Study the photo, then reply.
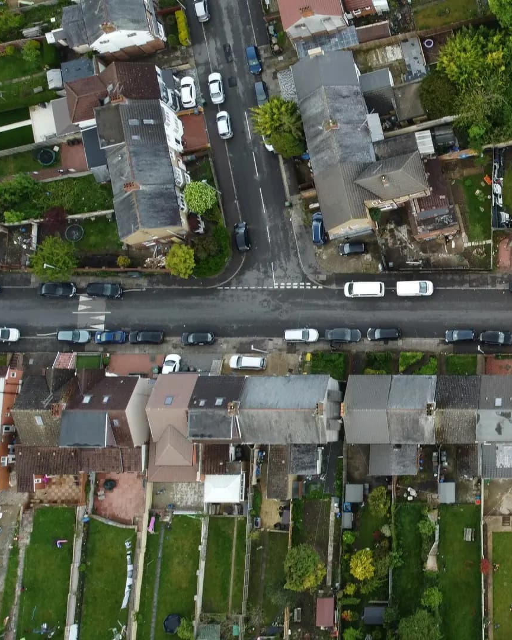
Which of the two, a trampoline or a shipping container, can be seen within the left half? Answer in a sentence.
The feature located within the left half is a trampoline.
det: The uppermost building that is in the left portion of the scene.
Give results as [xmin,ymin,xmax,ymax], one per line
[47,0,170,61]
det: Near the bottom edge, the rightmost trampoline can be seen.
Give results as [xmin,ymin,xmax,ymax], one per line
[163,613,182,632]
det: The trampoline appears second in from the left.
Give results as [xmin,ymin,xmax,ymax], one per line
[66,223,87,242]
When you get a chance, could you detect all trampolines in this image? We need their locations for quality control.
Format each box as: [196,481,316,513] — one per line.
[66,223,87,242]
[31,146,58,166]
[163,613,182,632]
